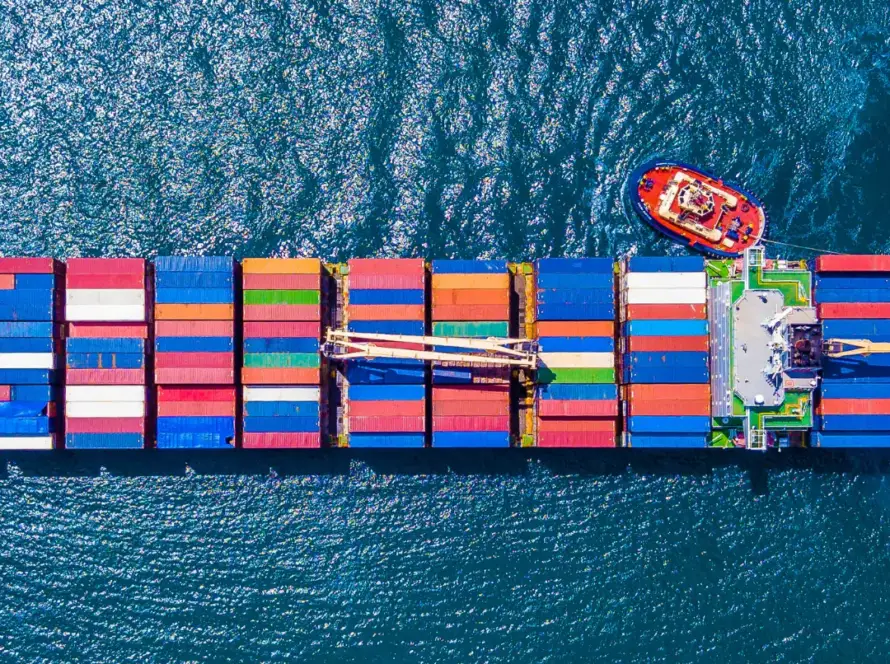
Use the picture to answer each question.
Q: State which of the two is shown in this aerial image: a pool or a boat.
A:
boat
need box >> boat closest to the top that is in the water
[628,163,773,254]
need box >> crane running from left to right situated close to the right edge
[807,337,890,360]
